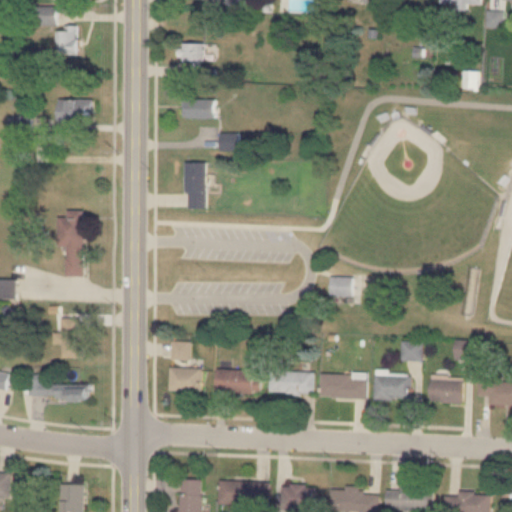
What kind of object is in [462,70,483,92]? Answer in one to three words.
barn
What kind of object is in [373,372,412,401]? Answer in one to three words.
house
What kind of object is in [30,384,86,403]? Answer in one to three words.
house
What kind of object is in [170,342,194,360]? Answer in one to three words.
building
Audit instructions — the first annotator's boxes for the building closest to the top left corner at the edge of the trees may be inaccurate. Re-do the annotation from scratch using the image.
[34,6,57,26]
